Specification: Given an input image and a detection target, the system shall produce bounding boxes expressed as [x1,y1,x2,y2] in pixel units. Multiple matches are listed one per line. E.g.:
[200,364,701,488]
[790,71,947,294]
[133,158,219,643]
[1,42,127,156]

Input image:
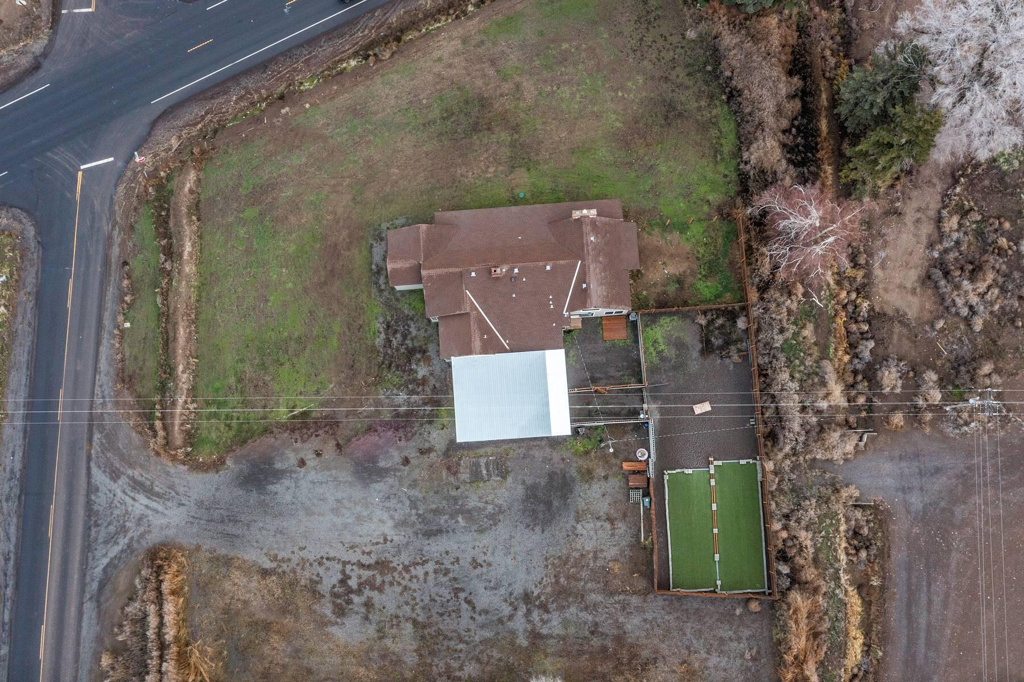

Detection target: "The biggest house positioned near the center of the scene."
[387,199,639,361]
